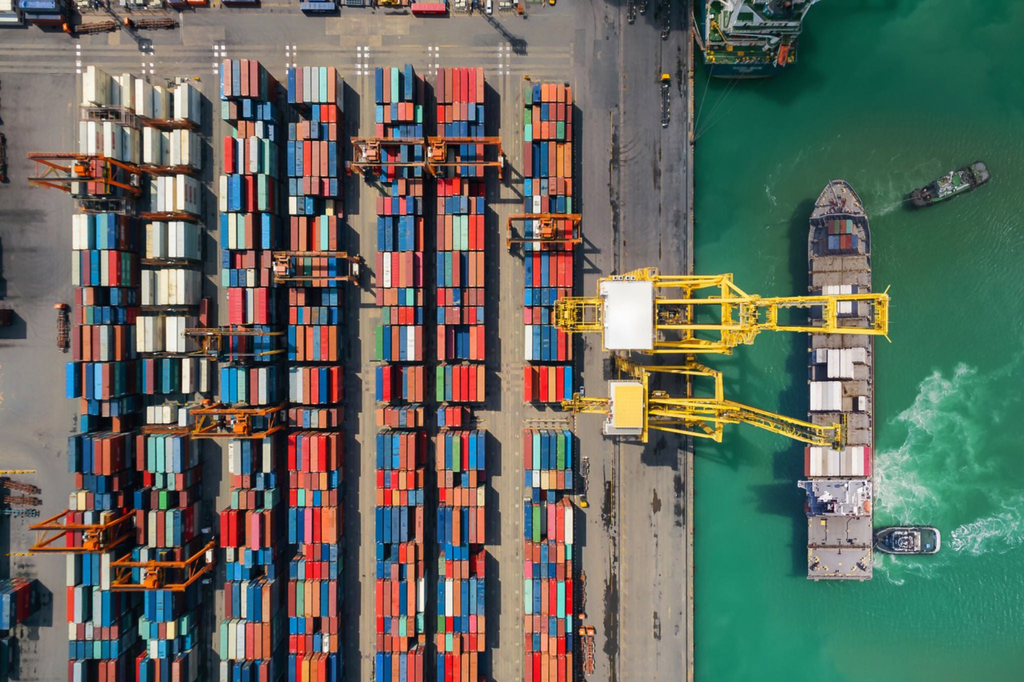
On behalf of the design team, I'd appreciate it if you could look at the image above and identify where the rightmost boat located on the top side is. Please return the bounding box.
[907,159,994,205]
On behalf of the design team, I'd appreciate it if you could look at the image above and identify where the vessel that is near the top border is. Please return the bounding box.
[691,0,819,79]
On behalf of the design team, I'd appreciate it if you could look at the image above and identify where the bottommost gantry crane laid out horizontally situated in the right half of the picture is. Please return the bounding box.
[564,354,848,450]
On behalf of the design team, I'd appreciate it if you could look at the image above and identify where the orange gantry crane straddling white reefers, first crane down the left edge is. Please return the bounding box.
[25,150,143,201]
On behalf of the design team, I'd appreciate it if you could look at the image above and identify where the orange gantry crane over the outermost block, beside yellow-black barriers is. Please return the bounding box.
[26,506,139,558]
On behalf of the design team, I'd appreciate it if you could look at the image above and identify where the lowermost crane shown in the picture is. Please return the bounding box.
[107,537,220,594]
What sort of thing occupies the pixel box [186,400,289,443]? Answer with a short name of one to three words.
crane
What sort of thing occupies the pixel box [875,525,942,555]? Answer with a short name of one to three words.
boat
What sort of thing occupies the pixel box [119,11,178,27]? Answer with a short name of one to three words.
work vehicle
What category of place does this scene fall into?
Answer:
port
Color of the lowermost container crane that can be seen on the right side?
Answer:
yellow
